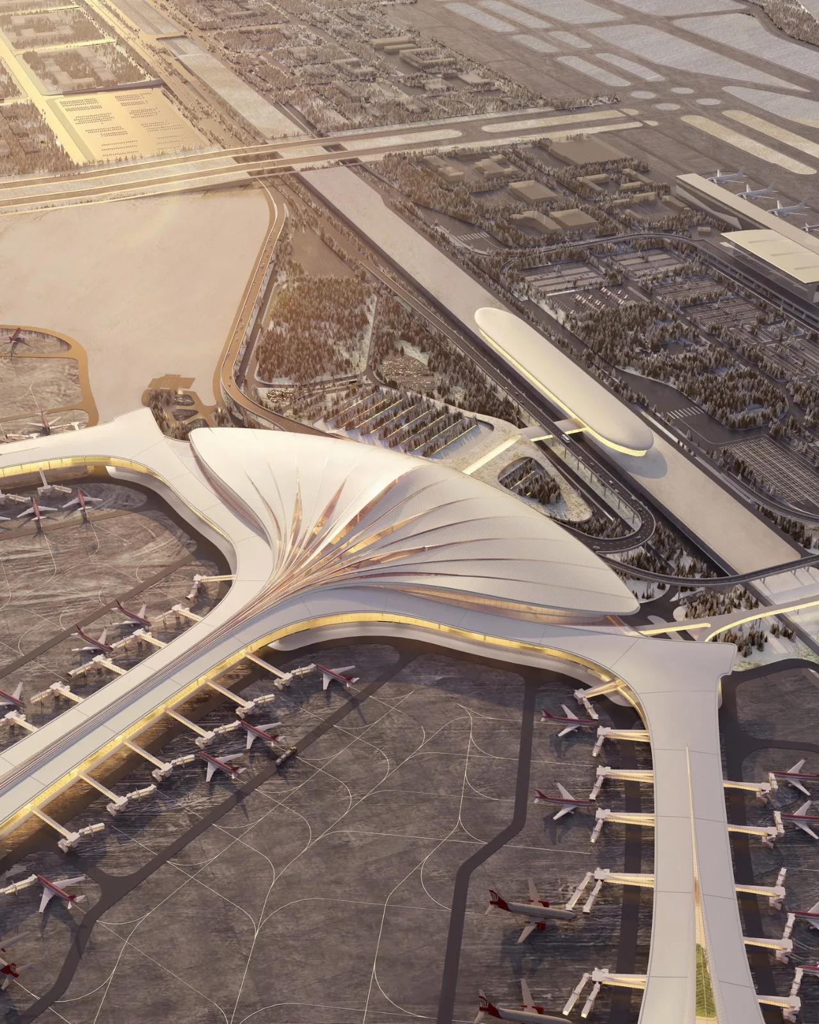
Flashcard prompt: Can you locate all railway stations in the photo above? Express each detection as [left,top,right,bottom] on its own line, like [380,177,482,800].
[475,307,653,458]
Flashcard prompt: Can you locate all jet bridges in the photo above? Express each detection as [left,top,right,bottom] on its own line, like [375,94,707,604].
[65,656,128,681]
[169,711,243,749]
[250,654,317,692]
[0,710,39,732]
[126,743,199,783]
[561,968,647,1024]
[207,683,278,721]
[152,606,204,625]
[0,872,41,900]
[566,869,655,920]
[35,810,109,857]
[589,809,655,848]
[723,771,777,808]
[0,489,33,508]
[186,575,235,603]
[758,965,804,1024]
[28,683,83,707]
[728,810,782,853]
[591,728,650,762]
[744,911,795,968]
[735,866,787,914]
[82,776,160,819]
[572,678,625,722]
[589,765,654,805]
[40,472,74,499]
[109,630,166,653]
[49,420,80,432]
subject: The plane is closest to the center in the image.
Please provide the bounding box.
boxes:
[316,661,362,689]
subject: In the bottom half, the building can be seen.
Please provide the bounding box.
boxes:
[0,408,765,1024]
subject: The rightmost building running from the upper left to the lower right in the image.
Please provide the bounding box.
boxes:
[676,173,819,298]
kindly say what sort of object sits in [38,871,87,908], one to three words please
airplane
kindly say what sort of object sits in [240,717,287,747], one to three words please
airplane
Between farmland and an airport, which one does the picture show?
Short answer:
airport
